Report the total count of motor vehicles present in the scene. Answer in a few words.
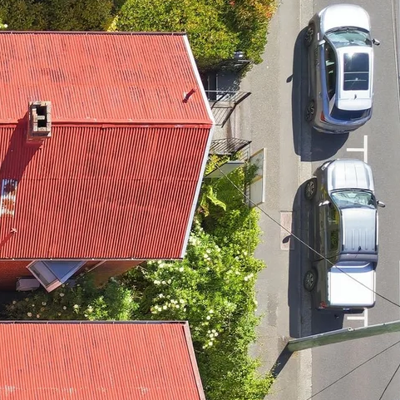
2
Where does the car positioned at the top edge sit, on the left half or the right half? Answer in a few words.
right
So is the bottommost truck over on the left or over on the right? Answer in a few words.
right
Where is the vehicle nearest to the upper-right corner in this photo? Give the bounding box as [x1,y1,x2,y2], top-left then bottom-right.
[306,5,381,135]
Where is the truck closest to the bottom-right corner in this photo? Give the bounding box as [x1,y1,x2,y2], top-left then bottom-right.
[305,159,382,312]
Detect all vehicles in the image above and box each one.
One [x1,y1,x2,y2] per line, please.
[305,159,382,312]
[306,5,381,135]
